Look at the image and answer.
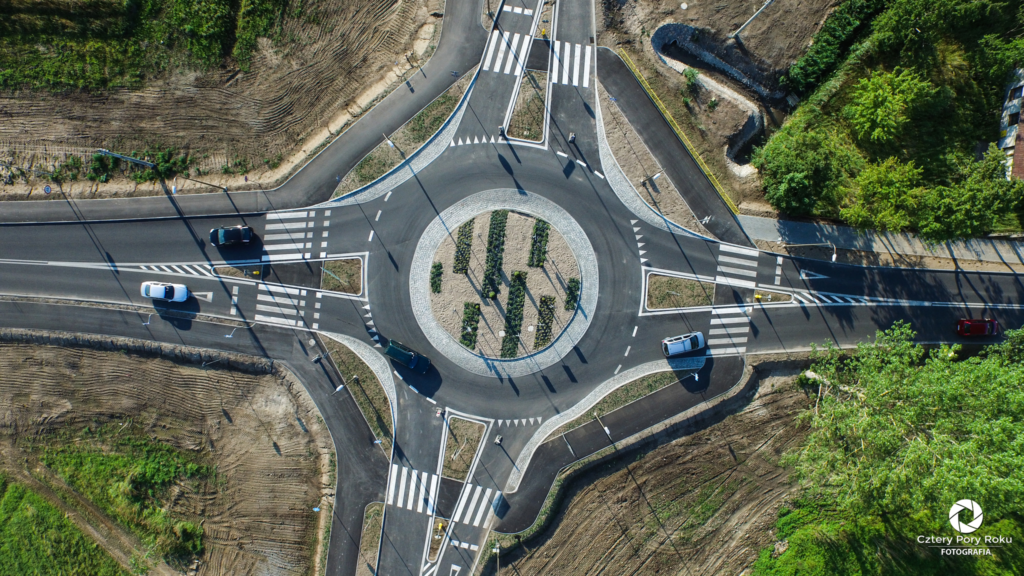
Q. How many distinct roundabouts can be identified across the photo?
1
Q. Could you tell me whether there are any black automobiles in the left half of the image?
Yes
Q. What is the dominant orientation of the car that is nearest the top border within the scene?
from side to side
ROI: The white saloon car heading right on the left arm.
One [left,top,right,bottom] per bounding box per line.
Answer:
[139,280,192,304]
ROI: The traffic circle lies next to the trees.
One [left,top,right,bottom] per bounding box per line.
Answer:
[305,70,721,494]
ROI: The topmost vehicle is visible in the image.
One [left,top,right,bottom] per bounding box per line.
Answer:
[208,225,255,248]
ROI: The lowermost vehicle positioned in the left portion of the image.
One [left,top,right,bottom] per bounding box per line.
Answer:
[384,338,435,373]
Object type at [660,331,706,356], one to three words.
car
